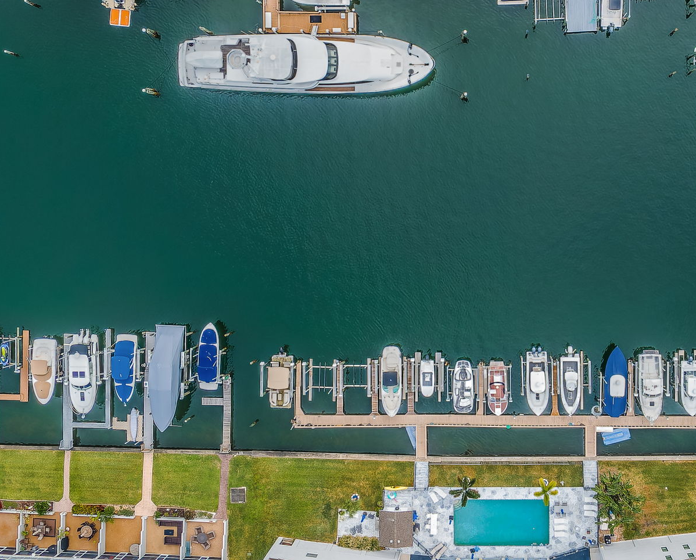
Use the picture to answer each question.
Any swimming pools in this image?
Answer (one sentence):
Yes, this view includes a swimming pool.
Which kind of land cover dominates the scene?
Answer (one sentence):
The scene is dominated by water.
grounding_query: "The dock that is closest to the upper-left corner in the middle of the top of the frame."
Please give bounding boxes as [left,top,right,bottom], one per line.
[261,0,357,34]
